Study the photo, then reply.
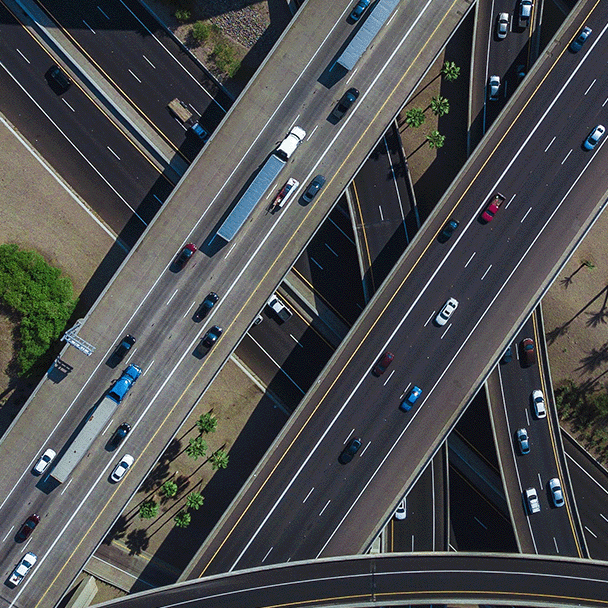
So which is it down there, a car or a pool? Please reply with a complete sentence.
Of the two, only a car appears.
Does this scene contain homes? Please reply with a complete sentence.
No, there appears to be no home in this shot.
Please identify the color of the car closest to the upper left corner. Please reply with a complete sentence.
The car closest to the upper left corner is black.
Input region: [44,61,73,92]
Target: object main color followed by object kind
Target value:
black car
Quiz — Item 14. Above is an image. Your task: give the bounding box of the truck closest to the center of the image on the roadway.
[268,292,296,323]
